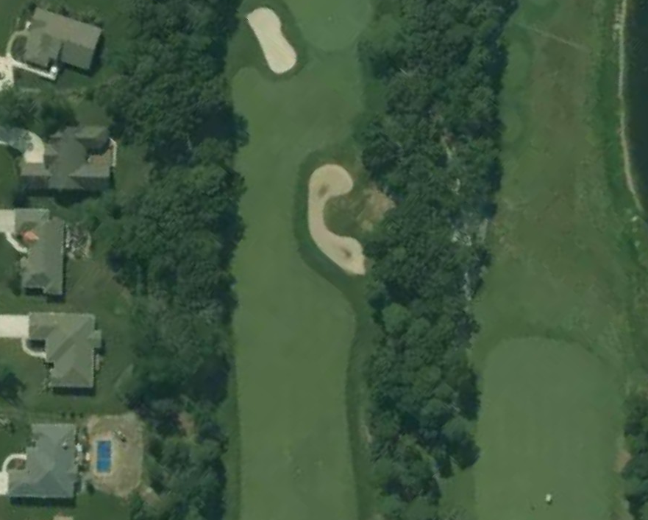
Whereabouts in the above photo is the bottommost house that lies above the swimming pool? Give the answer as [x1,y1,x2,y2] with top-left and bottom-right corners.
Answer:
[28,312,101,388]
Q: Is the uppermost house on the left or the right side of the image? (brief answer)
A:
left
